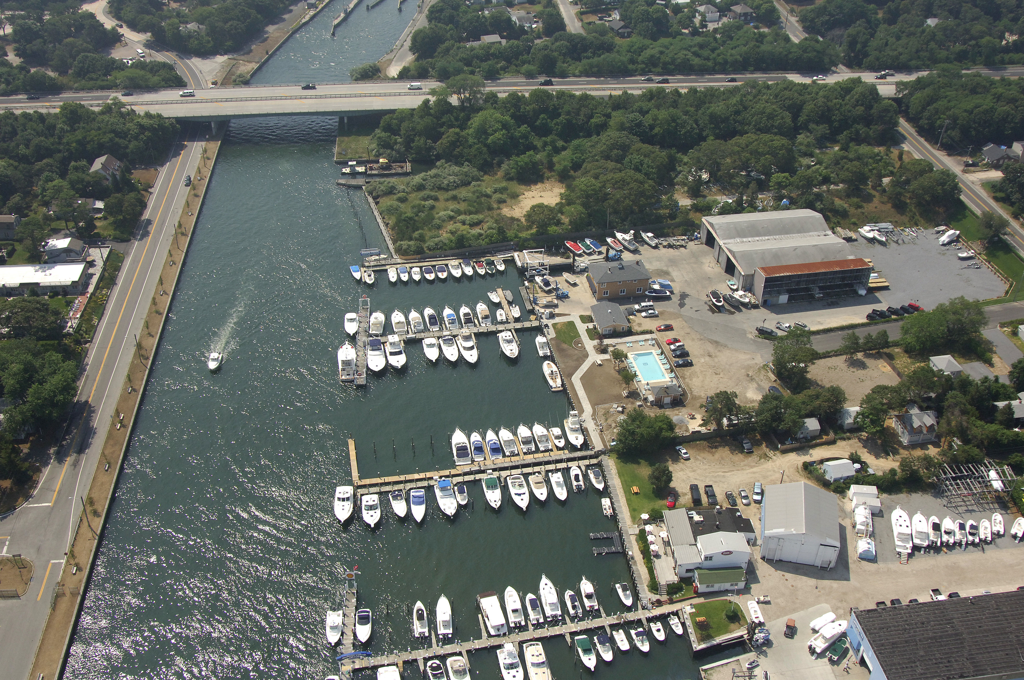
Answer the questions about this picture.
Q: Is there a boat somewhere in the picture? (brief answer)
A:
Yes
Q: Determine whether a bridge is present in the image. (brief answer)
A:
Yes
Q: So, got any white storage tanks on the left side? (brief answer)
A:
No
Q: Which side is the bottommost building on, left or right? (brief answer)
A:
right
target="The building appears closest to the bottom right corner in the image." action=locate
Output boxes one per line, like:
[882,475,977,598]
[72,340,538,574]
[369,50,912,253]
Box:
[844,588,1024,680]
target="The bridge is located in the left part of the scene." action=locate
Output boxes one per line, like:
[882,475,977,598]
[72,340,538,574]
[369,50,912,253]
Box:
[127,76,411,136]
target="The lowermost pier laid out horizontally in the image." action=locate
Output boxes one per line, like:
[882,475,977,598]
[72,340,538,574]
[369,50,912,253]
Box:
[352,600,653,676]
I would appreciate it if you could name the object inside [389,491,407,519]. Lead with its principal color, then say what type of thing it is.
white boat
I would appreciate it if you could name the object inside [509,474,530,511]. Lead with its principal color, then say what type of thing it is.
white boat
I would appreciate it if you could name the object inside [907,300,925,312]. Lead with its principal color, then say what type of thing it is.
red vehicle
